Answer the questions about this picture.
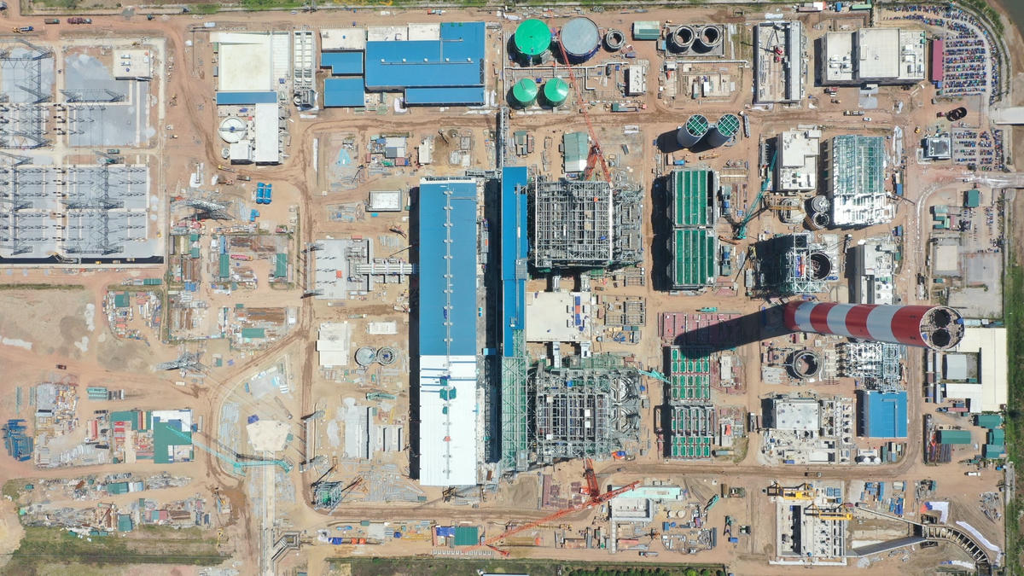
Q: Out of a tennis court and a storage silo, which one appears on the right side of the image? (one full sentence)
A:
You can see a storage silo on the right side of the image.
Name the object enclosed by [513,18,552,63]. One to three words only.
storage tank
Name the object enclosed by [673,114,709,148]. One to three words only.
silo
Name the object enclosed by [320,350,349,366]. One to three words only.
building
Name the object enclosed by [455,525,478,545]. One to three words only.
shed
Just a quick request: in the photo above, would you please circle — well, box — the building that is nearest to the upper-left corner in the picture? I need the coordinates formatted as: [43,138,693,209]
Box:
[114,50,156,81]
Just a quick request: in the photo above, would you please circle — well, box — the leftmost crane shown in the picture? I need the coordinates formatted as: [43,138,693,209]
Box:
[165,423,298,476]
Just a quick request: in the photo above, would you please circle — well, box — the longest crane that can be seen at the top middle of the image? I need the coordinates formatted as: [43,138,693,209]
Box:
[557,37,613,185]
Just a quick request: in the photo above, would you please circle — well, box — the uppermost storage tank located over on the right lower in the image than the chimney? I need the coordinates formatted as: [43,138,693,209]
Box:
[781,347,818,379]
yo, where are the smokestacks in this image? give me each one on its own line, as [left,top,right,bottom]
[783,299,964,350]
